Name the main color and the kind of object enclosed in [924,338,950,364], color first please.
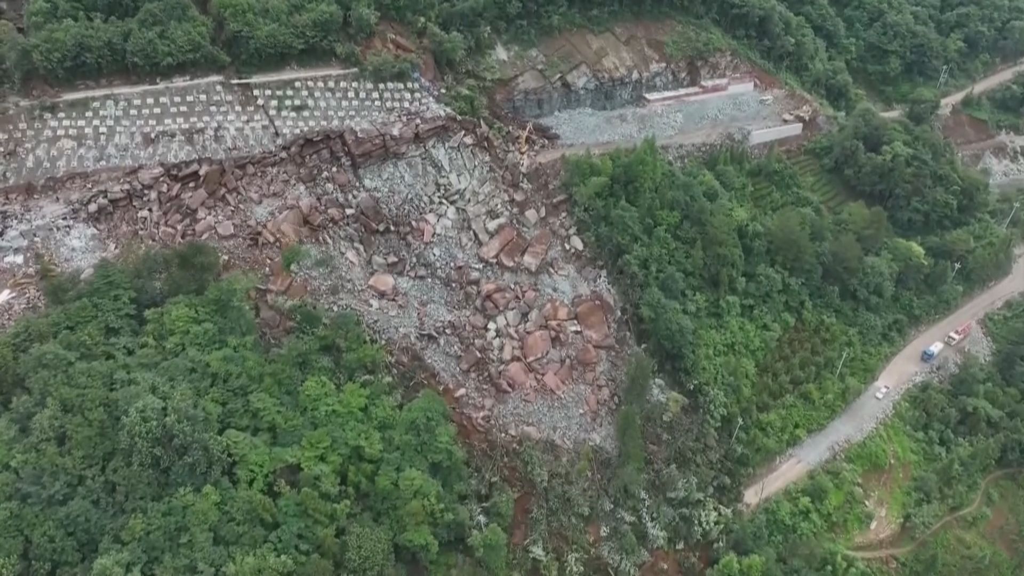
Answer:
white truck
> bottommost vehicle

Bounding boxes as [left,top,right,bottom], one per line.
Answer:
[874,379,893,398]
